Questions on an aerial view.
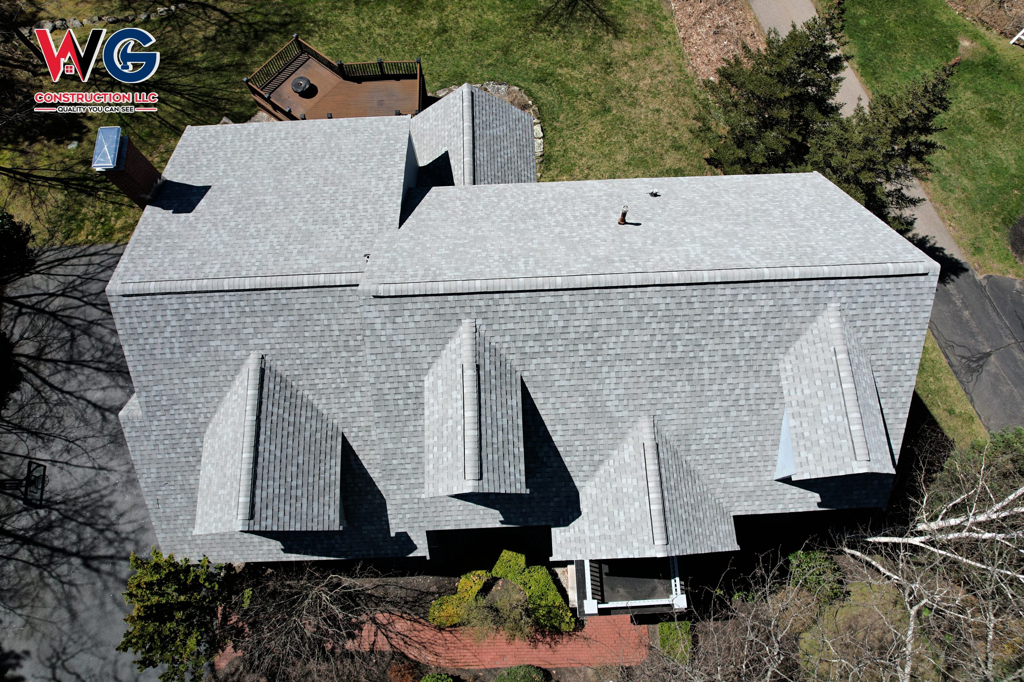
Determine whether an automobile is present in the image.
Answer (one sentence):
No, the photo shows no automobile.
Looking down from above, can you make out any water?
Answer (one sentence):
No, the picture contains no water.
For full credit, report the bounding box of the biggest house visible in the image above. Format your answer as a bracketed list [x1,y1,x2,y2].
[92,82,942,568]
